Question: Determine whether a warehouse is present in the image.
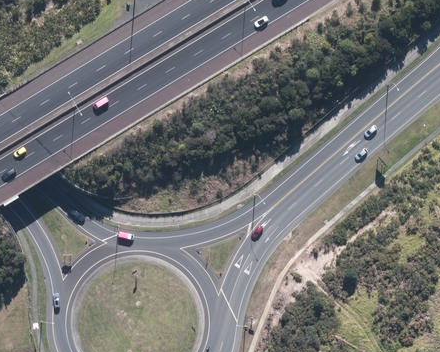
No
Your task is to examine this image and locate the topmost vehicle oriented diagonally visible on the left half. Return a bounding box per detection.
[94,96,110,108]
